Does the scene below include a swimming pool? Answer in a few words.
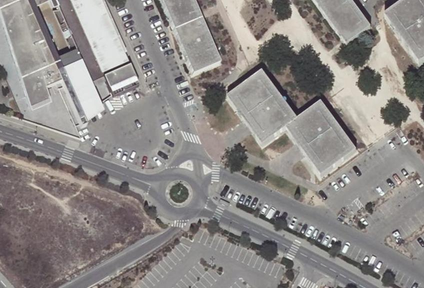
No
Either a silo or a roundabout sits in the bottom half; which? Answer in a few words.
roundabout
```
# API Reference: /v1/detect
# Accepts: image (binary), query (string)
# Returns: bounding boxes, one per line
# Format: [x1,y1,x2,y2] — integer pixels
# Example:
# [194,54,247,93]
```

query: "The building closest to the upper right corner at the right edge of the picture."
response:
[384,0,424,67]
